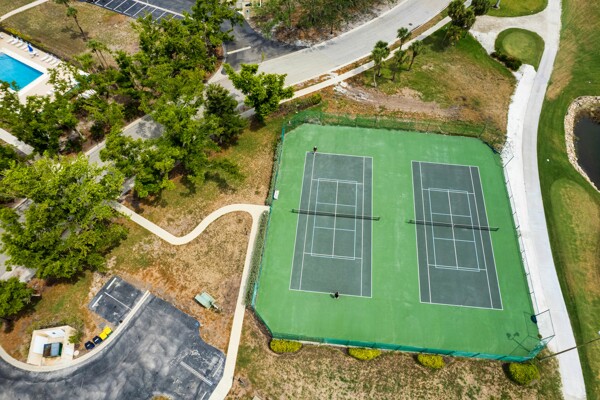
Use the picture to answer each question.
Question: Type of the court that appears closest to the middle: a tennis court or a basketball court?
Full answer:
Specifically, the court that appears closest to the middle is a tennis court.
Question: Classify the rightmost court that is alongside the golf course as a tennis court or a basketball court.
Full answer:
I'd say the rightmost court that is alongside the golf course is a tennis court.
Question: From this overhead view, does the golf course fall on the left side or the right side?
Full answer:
It is on the right.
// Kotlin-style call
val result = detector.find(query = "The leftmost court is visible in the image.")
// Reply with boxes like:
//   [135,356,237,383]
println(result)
[290,151,380,298]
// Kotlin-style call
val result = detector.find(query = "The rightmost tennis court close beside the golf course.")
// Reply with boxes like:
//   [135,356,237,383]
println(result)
[409,160,503,310]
